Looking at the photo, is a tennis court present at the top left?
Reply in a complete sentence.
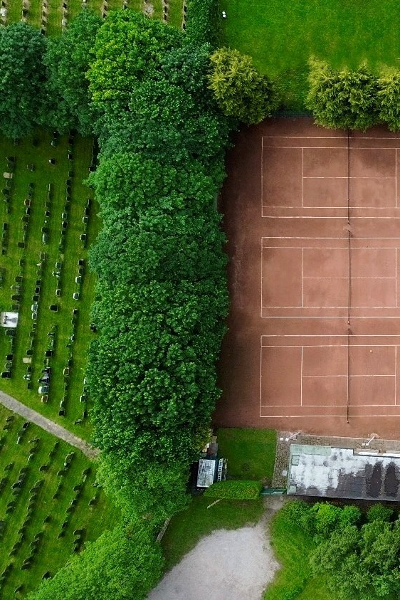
No, at the top left there is no tennis court.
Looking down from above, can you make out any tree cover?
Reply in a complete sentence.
Yes, tree cover shows up in the scene.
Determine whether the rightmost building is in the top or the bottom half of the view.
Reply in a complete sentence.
The rightmost building sits in the bottom half of the picture.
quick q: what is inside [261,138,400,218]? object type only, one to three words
tennis court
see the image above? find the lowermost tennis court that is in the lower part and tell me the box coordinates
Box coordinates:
[260,336,400,417]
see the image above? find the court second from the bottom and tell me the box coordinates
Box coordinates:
[261,238,400,318]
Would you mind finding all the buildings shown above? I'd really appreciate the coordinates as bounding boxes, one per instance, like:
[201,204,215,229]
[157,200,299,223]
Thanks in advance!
[284,442,400,502]
[197,456,220,488]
